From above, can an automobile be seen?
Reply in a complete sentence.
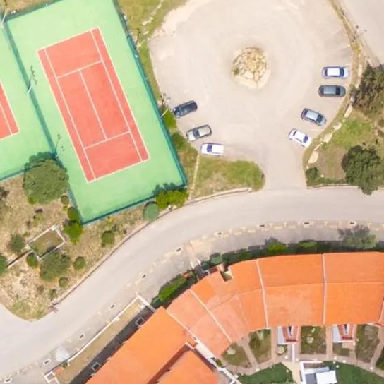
Yes, there's an automobile down there.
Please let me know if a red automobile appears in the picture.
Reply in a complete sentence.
No, there is no red automobile in the image.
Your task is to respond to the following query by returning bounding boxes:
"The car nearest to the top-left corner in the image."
[171,99,198,119]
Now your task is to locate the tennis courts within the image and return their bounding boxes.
[0,0,59,177]
[9,0,192,223]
